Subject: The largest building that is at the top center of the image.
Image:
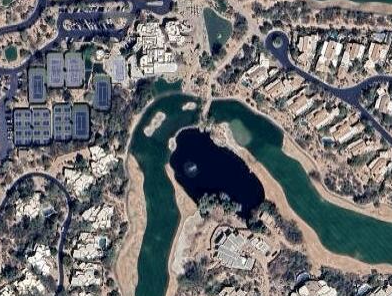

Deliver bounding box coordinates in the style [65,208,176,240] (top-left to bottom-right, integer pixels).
[131,22,191,73]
